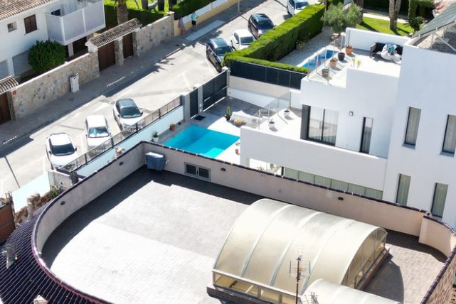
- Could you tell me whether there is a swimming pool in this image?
Yes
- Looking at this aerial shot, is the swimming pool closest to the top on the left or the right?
right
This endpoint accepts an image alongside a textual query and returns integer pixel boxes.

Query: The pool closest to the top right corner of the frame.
[299,44,343,69]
